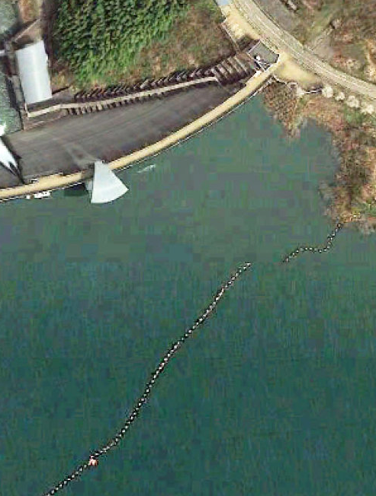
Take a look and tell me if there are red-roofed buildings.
No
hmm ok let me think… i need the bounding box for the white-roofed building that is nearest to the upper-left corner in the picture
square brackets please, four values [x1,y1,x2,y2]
[15,23,72,116]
